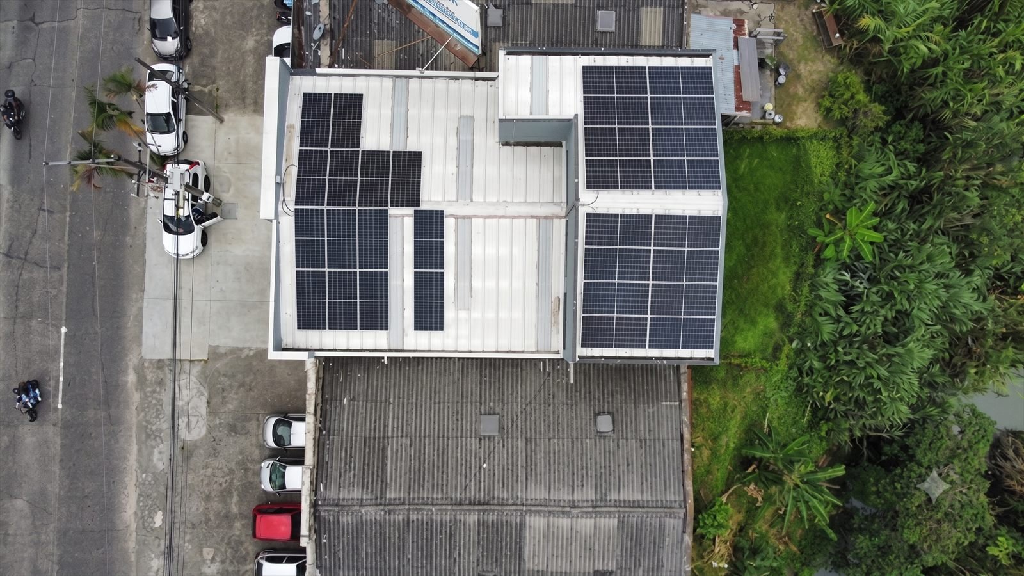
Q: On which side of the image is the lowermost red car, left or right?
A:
left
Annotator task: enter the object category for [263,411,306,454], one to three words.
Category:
car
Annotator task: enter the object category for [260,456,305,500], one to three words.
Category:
car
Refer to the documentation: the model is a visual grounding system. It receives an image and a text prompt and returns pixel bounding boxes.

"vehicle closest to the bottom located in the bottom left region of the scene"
[250,548,306,576]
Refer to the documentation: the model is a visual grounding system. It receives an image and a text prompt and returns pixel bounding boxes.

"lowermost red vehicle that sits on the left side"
[250,502,304,548]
